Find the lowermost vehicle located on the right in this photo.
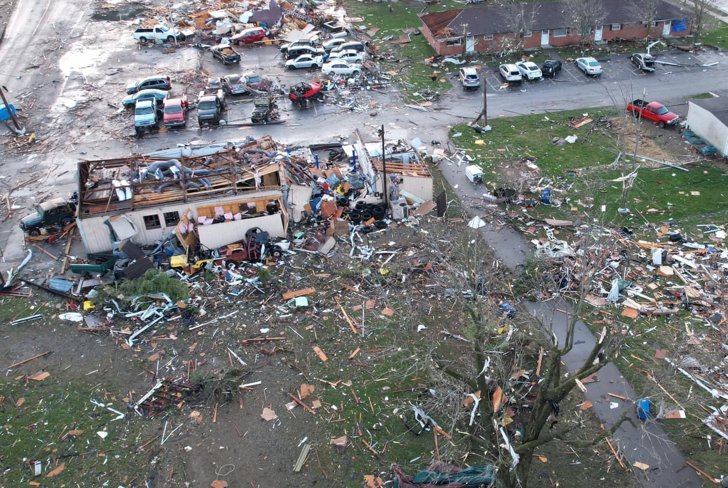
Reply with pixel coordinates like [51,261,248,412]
[627,97,681,124]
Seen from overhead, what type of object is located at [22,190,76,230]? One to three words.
car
